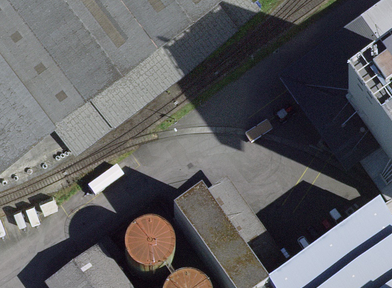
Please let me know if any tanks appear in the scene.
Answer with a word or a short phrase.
Yes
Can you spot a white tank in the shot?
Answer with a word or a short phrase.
No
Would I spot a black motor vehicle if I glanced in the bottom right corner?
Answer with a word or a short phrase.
Yes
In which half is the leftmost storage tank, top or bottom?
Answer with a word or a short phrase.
bottom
